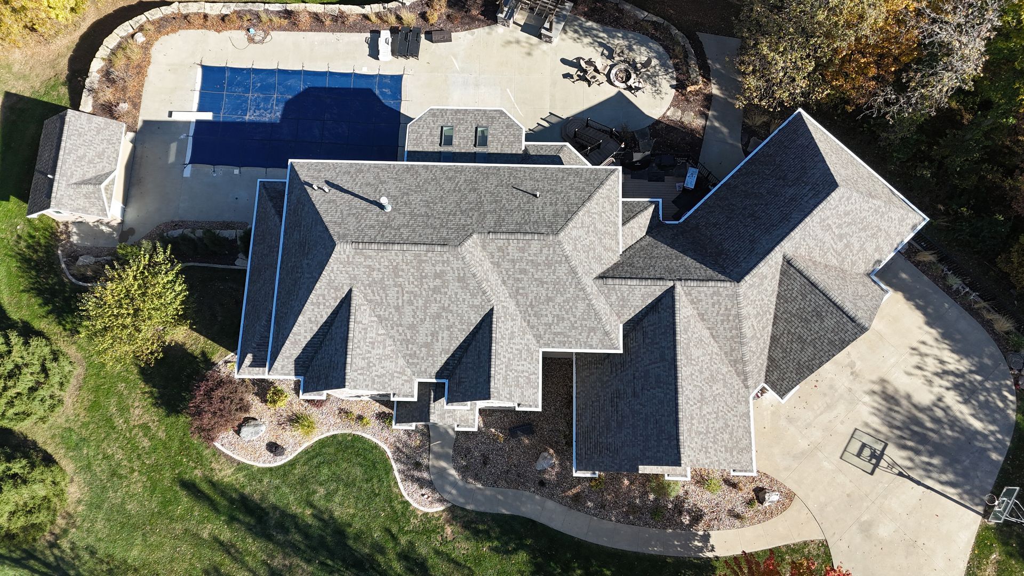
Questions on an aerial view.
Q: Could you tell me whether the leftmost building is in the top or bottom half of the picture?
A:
top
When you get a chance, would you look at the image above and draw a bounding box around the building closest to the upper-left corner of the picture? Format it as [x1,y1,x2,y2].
[28,110,135,224]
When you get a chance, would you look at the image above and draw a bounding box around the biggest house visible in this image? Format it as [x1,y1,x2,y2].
[236,108,929,482]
